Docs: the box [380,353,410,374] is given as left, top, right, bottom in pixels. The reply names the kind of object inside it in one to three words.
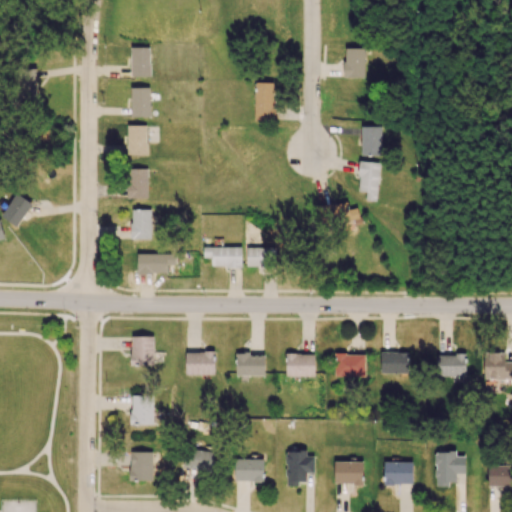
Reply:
house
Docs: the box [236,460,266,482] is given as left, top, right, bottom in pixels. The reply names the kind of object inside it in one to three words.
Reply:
house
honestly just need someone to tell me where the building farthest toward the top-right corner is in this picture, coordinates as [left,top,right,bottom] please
[344,48,366,78]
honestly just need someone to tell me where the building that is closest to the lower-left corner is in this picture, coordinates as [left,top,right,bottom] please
[130,452,154,482]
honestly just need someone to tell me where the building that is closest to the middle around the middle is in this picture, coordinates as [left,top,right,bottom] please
[247,248,275,268]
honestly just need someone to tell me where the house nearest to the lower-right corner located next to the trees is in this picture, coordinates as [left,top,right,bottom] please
[490,466,512,488]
